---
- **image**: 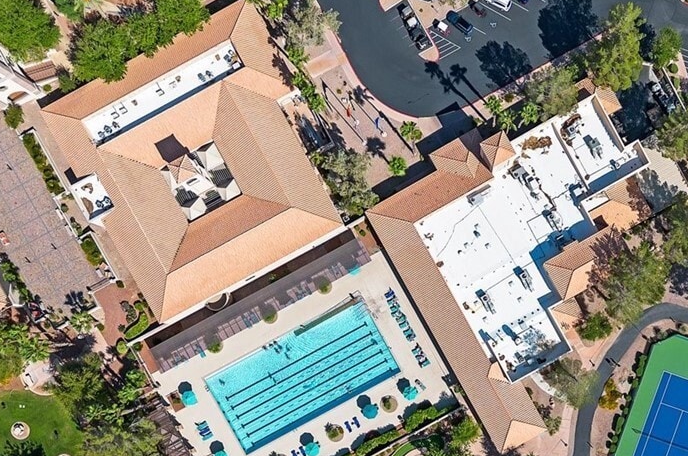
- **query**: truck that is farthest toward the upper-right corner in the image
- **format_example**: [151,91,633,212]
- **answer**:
[649,82,675,111]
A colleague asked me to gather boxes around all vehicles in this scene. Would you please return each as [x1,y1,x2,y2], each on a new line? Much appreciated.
[404,14,419,30]
[447,11,473,36]
[470,0,484,18]
[437,20,451,38]
[486,0,513,13]
[409,25,424,41]
[415,38,430,54]
[399,1,414,17]
[519,0,534,6]
[649,82,675,111]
